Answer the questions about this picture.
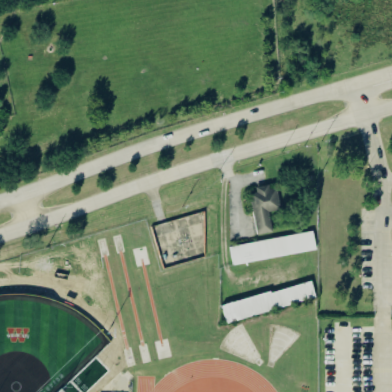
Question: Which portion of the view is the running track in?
bottom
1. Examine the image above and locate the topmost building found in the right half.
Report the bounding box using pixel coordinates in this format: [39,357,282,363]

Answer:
[250,182,278,235]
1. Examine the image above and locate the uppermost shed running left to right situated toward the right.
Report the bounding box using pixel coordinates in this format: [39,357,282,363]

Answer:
[229,231,317,265]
